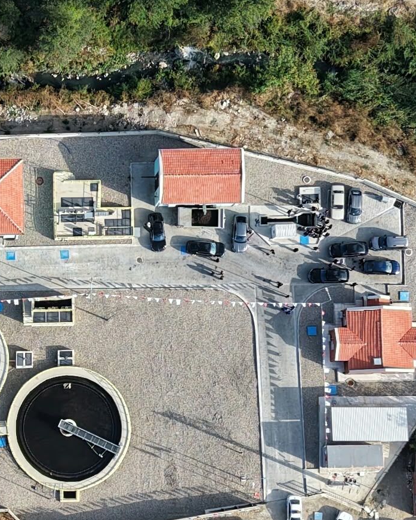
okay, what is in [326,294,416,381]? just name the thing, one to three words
building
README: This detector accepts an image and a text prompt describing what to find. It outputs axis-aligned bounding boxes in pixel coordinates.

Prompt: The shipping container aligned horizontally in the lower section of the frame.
[319,445,390,473]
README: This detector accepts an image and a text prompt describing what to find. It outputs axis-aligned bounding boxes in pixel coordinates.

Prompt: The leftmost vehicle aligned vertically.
[147,212,168,253]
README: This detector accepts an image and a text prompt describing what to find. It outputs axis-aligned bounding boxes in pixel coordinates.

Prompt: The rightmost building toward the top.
[151,148,248,216]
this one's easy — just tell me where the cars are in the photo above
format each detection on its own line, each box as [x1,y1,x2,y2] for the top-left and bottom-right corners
[361,258,400,275]
[368,233,409,251]
[329,186,347,220]
[329,240,369,258]
[285,496,305,520]
[345,187,365,224]
[231,215,251,253]
[336,510,354,520]
[147,212,168,253]
[185,240,225,257]
[308,266,349,284]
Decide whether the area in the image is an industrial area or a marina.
industrial area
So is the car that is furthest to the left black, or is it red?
black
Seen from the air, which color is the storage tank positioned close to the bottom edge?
black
